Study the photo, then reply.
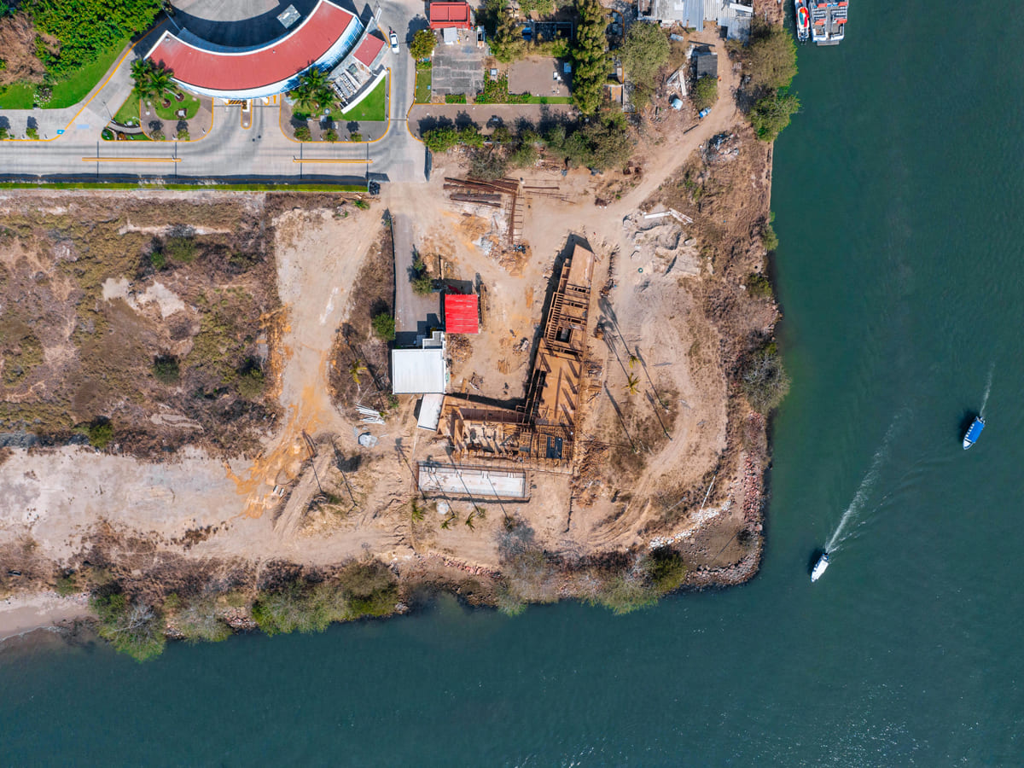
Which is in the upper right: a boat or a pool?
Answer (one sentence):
Visible in the upper right is a boat.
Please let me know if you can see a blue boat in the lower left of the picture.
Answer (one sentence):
No, I can find no blue boat in the lower left of the picture.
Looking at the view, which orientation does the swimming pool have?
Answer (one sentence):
From this overhead view, the swimming pool appears to run from side to side.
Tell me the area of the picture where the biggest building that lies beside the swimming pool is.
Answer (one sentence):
The biggest building that lies beside the swimming pool appears toward the center of the photo.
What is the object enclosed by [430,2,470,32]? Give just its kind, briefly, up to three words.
house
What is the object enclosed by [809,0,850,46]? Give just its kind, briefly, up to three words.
boat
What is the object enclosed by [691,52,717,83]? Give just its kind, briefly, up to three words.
shed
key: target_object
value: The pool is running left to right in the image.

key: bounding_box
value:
[418,462,531,500]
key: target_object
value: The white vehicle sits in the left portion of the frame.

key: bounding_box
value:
[389,31,401,53]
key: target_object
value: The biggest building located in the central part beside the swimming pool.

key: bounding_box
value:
[437,245,594,476]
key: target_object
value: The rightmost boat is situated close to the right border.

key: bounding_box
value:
[963,416,985,450]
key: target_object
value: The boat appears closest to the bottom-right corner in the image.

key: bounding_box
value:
[811,552,832,583]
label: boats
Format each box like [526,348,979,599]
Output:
[795,0,811,43]
[809,0,850,46]
[963,416,985,450]
[811,552,832,583]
